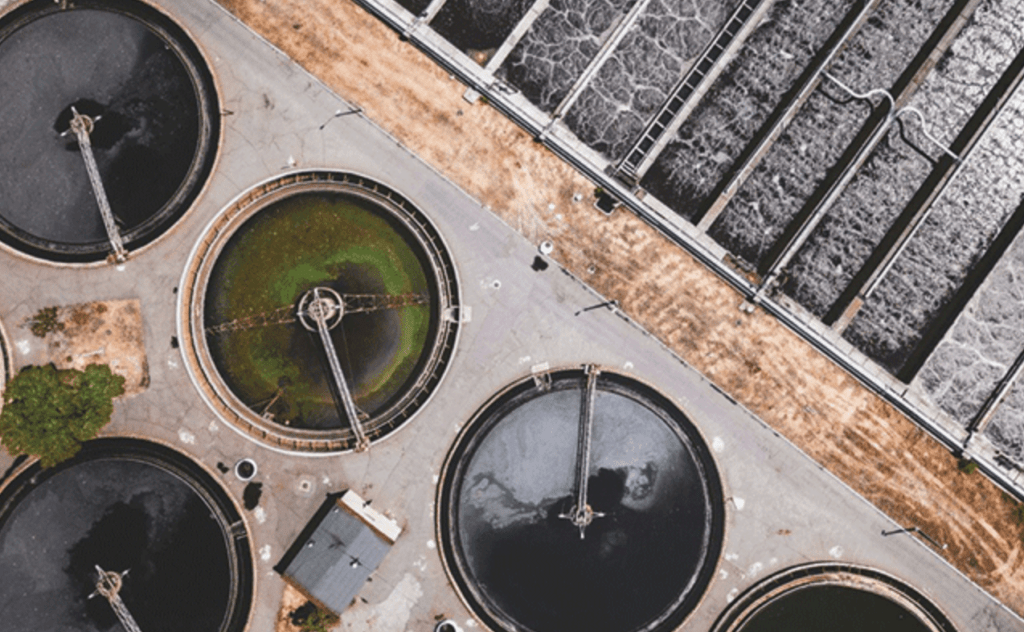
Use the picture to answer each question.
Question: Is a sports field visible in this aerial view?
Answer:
No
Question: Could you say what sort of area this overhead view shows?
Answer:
industrial area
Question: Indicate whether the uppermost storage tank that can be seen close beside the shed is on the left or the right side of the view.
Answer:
left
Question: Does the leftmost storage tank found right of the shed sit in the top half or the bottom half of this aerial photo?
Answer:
bottom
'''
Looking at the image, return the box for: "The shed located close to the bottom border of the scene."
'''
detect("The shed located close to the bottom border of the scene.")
[282,491,400,617]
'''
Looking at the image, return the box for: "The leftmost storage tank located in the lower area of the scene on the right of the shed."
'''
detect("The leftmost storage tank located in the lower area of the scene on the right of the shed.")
[435,364,728,632]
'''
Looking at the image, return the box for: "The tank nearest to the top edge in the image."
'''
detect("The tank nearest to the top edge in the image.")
[0,0,221,267]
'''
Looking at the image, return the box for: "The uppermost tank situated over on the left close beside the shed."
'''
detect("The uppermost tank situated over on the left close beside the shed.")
[176,170,470,456]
